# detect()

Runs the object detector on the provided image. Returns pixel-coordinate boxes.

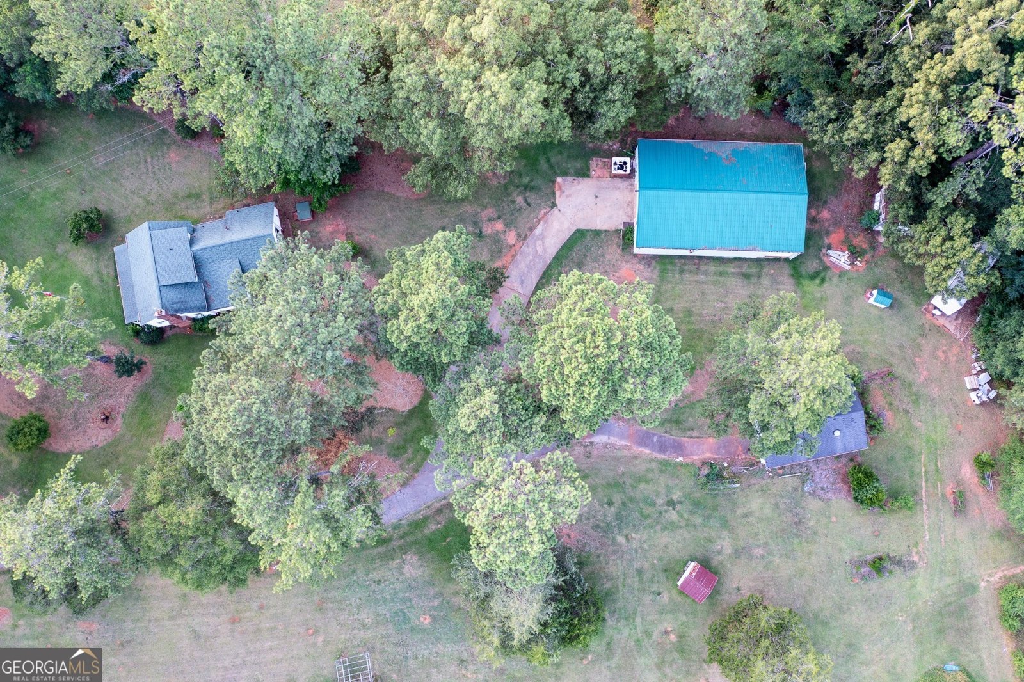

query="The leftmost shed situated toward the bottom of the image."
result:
[673,556,718,603]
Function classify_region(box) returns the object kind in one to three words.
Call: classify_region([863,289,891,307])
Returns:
building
